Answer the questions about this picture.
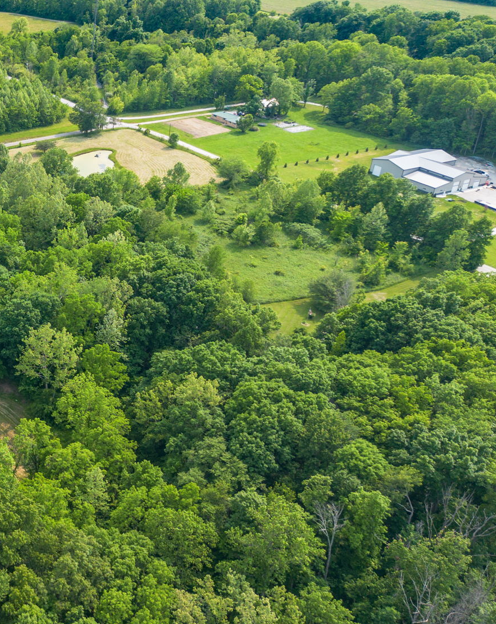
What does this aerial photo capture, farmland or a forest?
forest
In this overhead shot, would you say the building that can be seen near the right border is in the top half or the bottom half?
top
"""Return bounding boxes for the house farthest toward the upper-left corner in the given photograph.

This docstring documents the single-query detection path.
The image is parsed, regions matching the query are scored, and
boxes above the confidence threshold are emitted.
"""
[211,110,242,129]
